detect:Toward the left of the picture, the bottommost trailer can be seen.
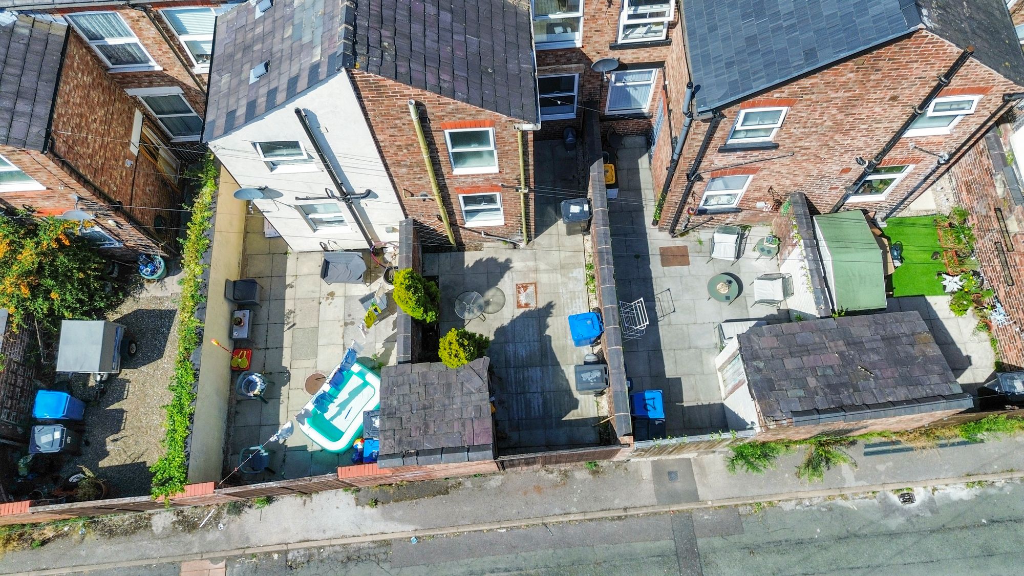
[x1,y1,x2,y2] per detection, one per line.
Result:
[54,320,140,422]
